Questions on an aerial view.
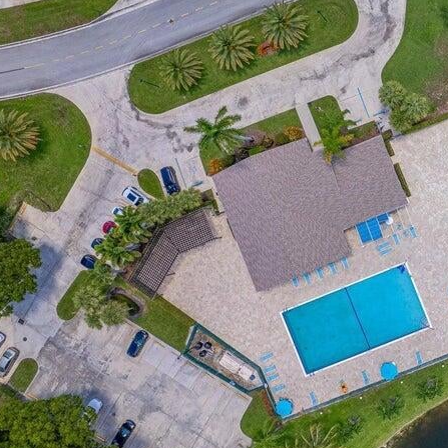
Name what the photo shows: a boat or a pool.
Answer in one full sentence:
There is a pool in the scene.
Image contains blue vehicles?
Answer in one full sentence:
Yes, the photo shows a blue vehicle.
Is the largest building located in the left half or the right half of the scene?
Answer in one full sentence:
The largest building sits on the right side.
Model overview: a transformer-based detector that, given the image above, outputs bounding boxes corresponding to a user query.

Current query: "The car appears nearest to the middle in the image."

[157,163,178,193]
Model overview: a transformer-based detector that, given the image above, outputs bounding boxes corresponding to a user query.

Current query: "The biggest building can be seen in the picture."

[213,134,409,291]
